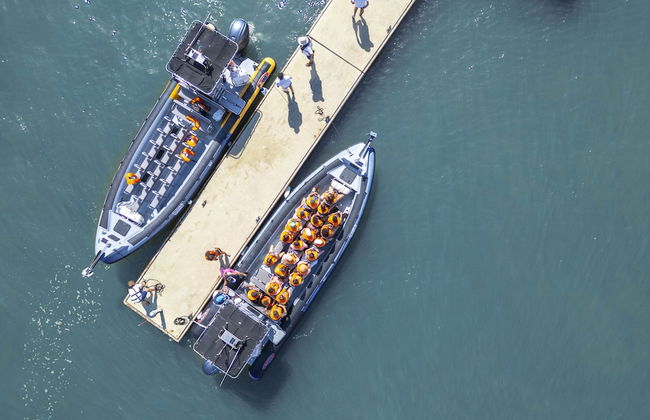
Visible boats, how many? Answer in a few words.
two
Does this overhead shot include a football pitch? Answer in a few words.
No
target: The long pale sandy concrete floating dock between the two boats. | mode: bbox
[122,0,416,341]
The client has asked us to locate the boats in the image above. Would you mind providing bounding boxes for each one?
[79,9,277,278]
[189,131,381,389]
